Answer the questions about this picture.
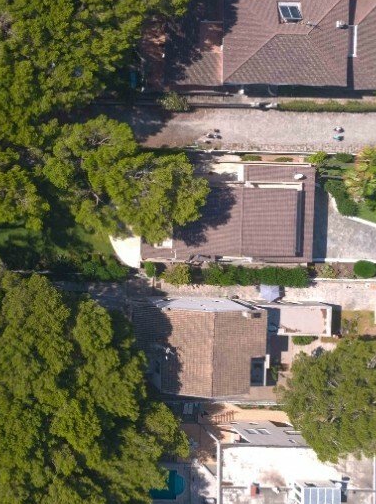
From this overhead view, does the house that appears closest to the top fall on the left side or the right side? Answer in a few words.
right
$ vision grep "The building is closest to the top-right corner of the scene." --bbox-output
[166,0,376,90]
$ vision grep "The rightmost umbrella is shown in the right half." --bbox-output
[258,285,279,301]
